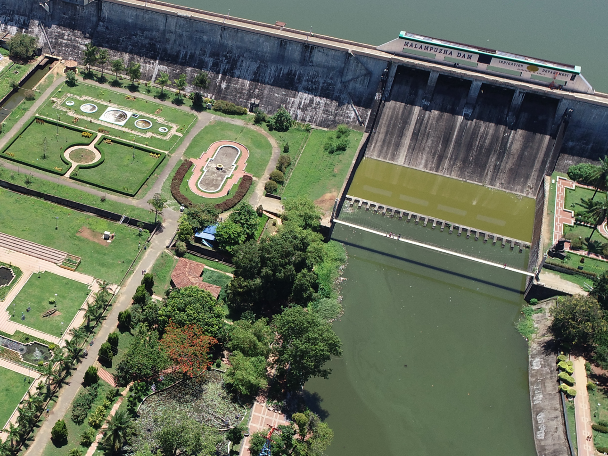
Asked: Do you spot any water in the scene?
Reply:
Yes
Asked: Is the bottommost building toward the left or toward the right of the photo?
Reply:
left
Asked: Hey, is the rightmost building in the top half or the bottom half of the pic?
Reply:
top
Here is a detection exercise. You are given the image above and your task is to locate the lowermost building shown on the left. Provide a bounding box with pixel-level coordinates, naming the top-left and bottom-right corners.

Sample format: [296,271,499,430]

[170,257,222,296]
